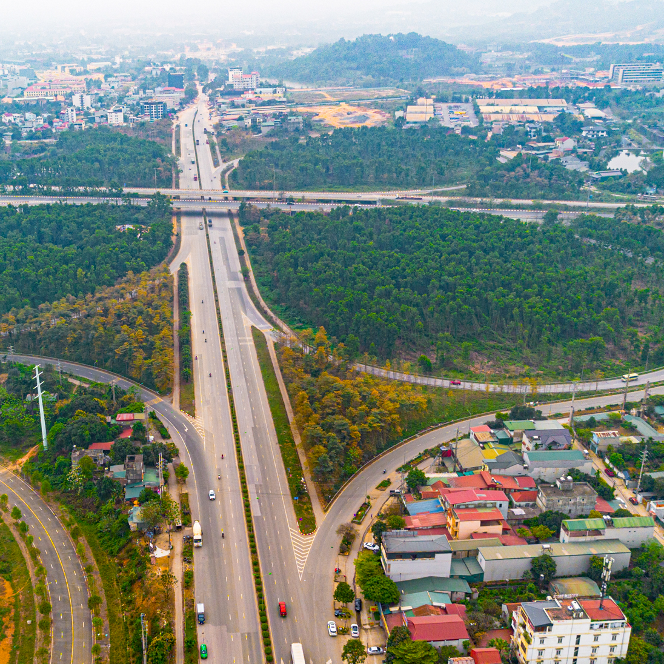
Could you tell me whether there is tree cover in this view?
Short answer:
Yes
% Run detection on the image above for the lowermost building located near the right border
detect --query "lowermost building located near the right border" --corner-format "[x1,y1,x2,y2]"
[510,592,632,664]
